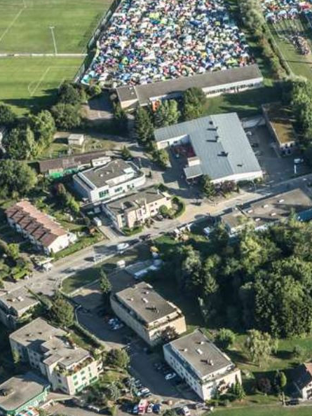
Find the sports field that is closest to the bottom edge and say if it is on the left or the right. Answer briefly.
left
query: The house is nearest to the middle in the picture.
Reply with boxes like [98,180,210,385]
[112,185,173,229]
